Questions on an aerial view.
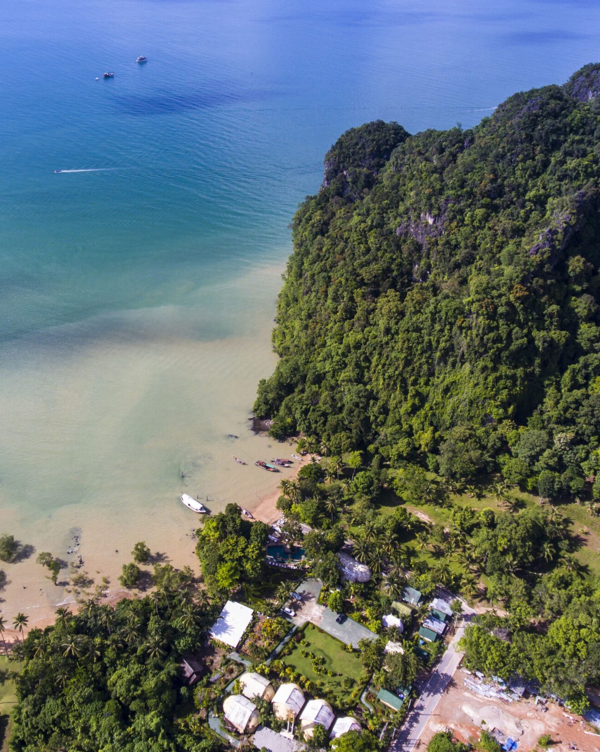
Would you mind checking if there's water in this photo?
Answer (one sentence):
Yes, the picture does contain water.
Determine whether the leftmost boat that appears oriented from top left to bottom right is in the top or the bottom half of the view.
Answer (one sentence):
The leftmost boat that appears oriented from top left to bottom right sits in the bottom half of the picture.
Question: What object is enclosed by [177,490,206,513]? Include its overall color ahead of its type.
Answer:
white boat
